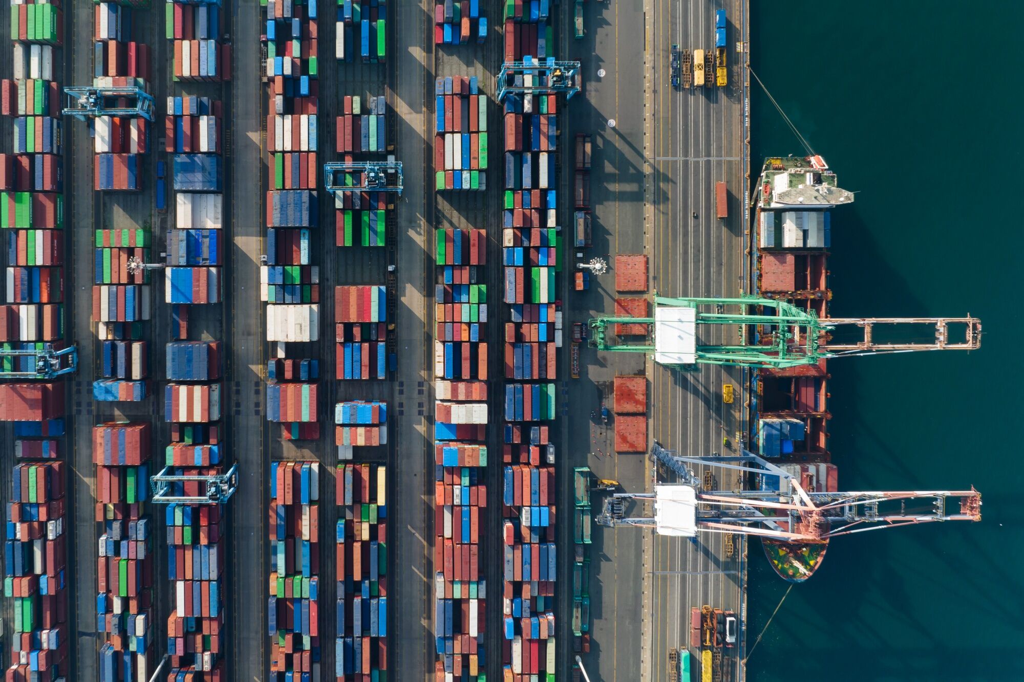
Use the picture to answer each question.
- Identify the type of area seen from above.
port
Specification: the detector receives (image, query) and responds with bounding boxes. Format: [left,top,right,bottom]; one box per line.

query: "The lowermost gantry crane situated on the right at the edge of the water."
[599,429,986,545]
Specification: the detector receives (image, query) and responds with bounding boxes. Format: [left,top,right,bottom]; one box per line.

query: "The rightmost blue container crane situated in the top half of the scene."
[495,63,582,106]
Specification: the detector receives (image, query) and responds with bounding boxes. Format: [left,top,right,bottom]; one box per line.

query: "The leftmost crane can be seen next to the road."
[0,339,83,377]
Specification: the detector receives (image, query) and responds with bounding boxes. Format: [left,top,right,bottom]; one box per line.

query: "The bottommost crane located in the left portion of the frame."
[151,456,242,505]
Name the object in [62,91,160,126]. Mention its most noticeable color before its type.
blue container crane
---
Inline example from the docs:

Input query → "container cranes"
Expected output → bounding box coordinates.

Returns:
[151,456,242,505]
[495,63,582,106]
[323,163,407,198]
[62,91,160,126]
[599,429,986,545]
[589,282,984,371]
[0,339,83,377]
